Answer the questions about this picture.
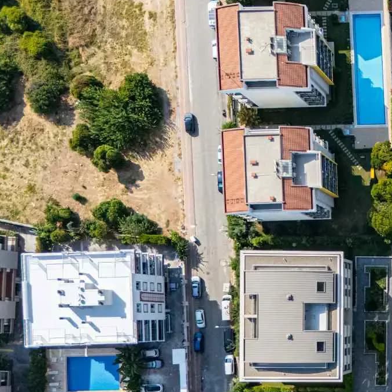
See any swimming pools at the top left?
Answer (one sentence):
No, the scene shows no swimming pool at the top left.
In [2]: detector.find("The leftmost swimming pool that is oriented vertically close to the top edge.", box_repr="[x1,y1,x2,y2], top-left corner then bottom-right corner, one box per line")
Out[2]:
[351,10,386,127]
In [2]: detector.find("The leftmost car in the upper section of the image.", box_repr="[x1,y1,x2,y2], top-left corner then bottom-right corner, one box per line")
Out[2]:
[183,112,197,134]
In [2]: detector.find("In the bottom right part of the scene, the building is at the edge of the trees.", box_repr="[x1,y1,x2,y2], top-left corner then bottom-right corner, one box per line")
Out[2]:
[239,251,355,382]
